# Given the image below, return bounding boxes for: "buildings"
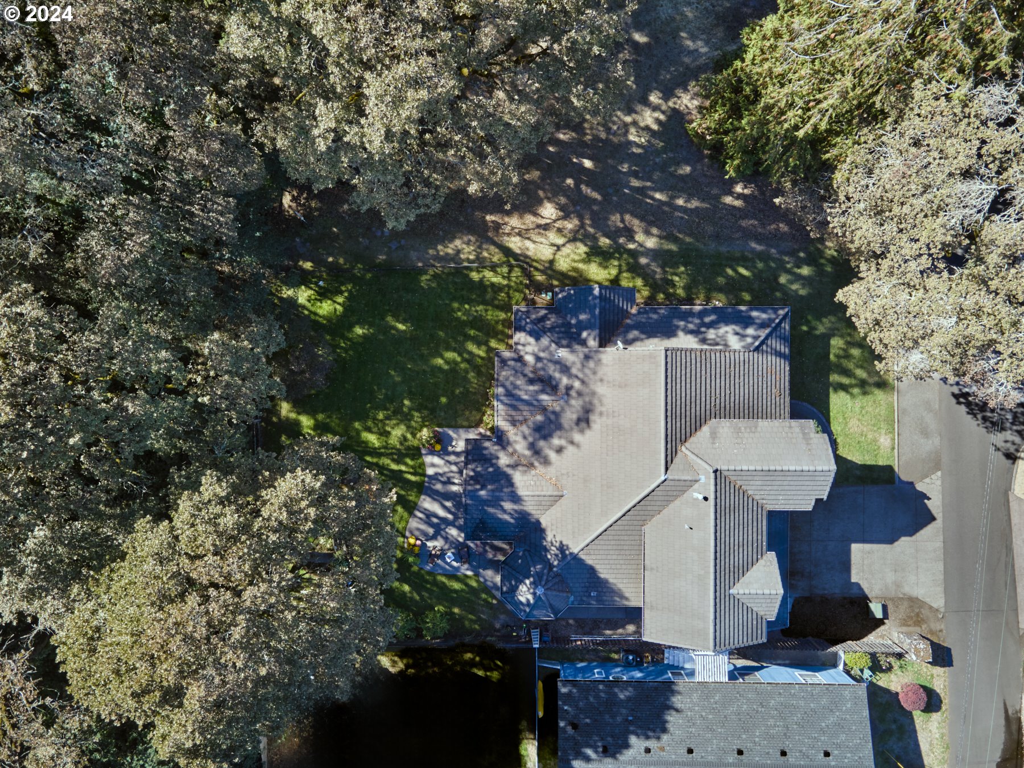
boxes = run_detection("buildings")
[462,284,838,653]
[557,663,876,768]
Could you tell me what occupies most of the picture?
trees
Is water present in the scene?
No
